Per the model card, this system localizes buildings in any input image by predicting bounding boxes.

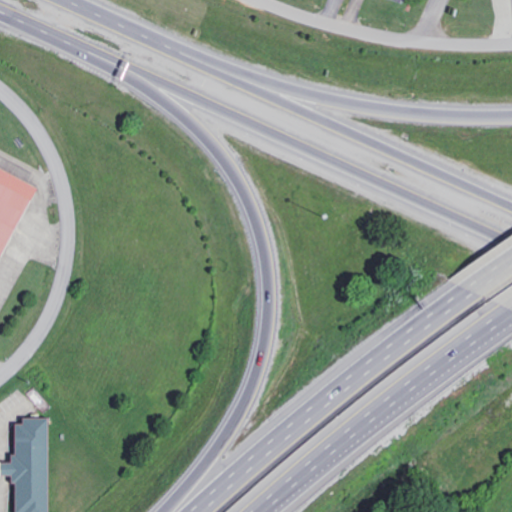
[0,418,48,512]
[0,168,37,258]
